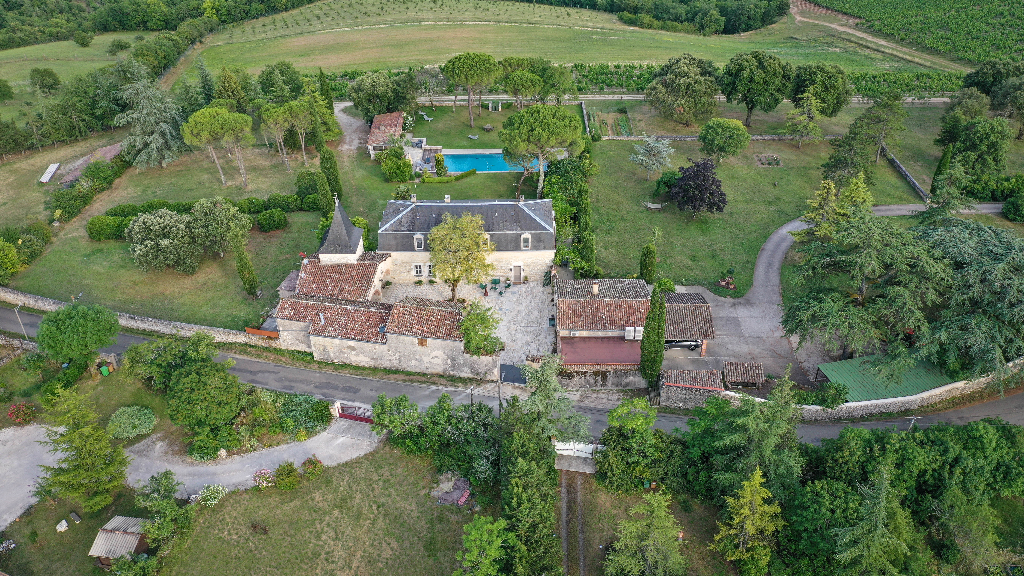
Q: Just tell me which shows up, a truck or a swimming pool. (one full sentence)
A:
Looking from above, you can make out a swimming pool.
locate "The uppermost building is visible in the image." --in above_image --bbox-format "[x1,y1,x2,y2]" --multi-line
[367,111,413,162]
